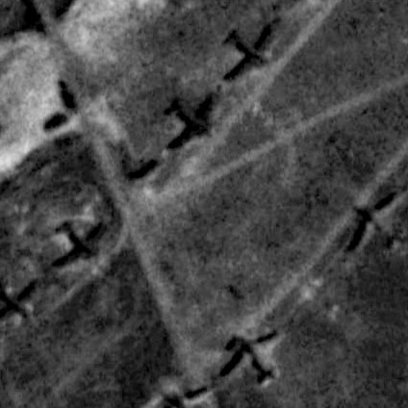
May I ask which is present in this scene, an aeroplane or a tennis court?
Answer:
aeroplane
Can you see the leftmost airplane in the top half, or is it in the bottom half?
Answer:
bottom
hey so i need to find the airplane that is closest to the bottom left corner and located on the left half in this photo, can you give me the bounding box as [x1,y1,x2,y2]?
[0,280,40,318]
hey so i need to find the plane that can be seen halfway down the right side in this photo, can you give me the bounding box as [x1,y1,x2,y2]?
[353,196,408,252]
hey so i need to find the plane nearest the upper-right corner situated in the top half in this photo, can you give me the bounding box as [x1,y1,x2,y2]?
[224,25,274,82]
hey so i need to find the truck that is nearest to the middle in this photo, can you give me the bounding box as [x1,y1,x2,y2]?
[123,157,156,180]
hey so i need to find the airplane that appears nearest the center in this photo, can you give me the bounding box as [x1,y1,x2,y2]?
[166,94,212,149]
